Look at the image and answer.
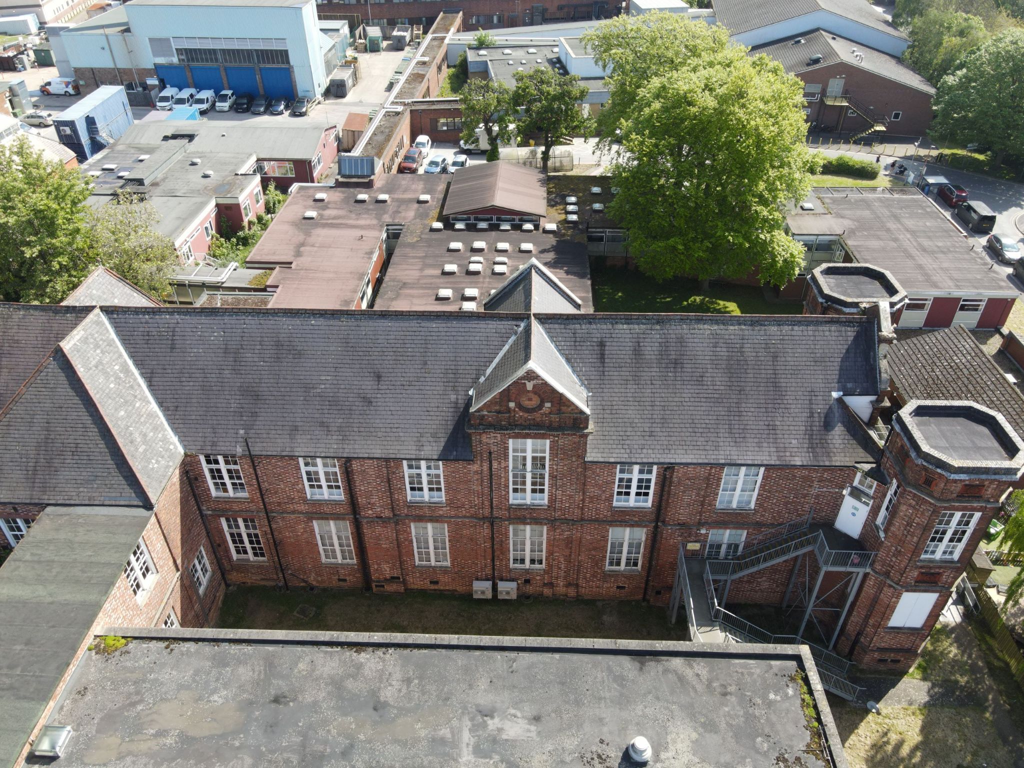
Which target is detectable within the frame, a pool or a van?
van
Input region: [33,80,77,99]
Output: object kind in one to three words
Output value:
vehicle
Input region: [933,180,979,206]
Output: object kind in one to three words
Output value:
car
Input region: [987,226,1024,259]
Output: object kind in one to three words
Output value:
car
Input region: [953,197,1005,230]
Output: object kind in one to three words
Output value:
van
